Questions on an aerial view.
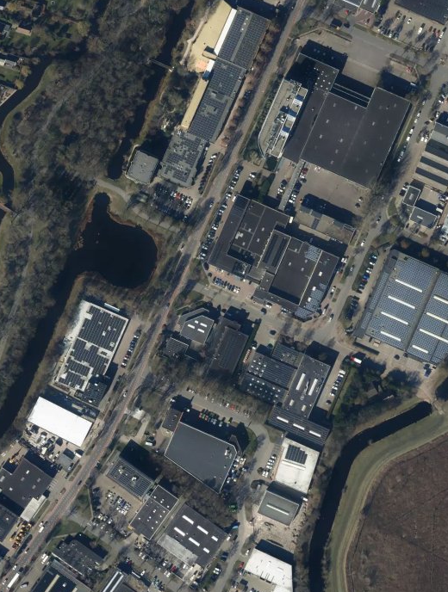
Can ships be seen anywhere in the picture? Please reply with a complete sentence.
No, no ship is visible in the scene.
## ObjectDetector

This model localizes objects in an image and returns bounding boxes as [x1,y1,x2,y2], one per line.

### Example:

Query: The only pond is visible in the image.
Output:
[45,193,157,288]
